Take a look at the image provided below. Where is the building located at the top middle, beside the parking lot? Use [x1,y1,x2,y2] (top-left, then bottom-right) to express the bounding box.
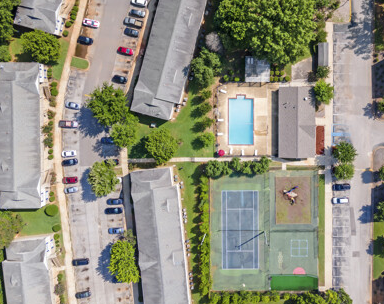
[132,0,209,120]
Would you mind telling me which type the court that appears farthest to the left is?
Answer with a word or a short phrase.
tennis court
